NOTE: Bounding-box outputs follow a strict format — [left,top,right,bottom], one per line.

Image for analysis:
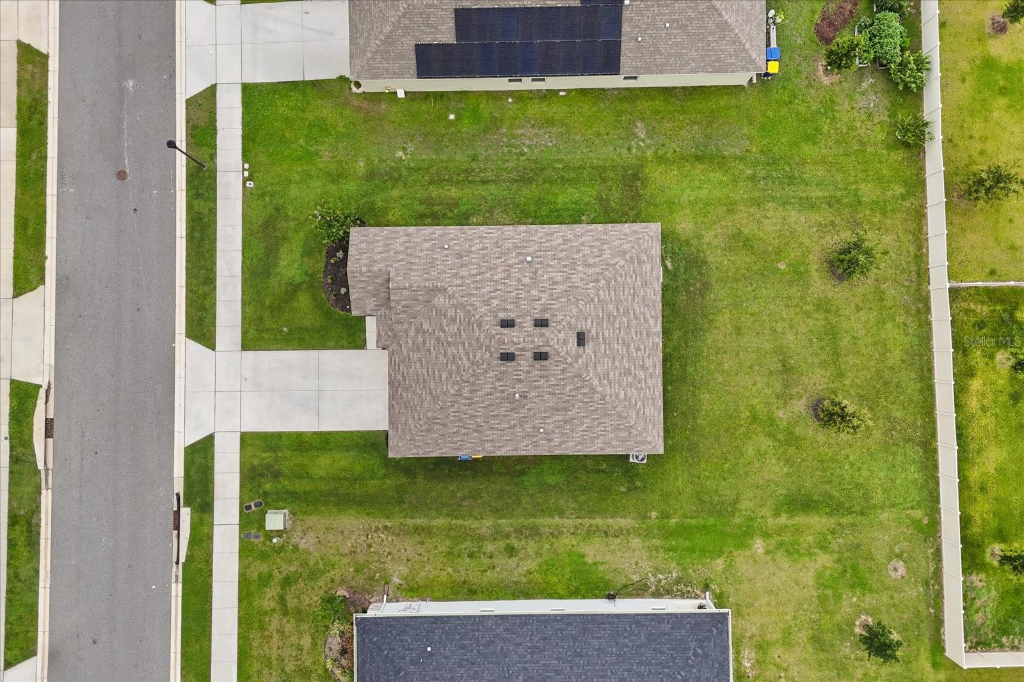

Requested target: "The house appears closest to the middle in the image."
[347,221,665,459]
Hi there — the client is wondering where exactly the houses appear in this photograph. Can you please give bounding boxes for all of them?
[347,221,665,459]
[354,592,732,682]
[348,0,768,90]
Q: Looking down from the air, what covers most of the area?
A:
grass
